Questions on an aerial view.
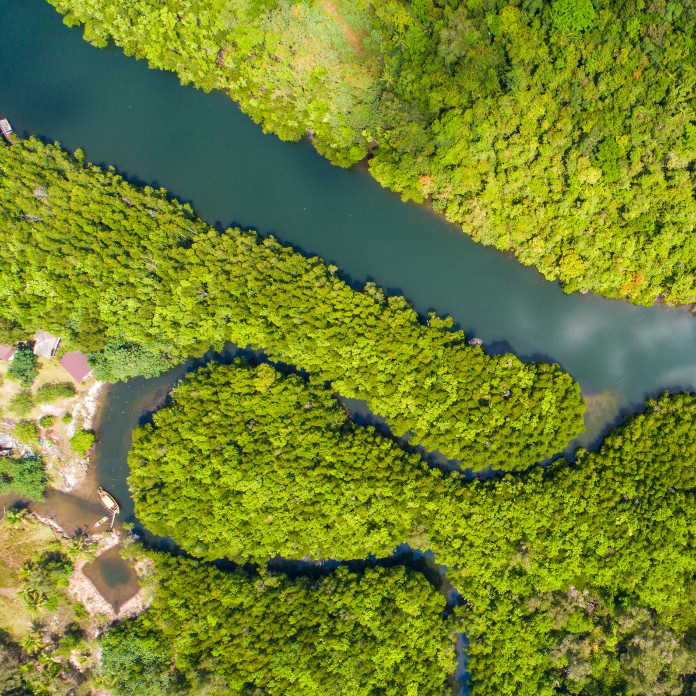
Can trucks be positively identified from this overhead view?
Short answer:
No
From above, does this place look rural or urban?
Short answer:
rural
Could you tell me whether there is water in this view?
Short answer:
Yes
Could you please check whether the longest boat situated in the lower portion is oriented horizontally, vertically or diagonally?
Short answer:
diagonally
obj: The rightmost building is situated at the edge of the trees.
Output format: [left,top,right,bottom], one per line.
[59,356,90,385]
